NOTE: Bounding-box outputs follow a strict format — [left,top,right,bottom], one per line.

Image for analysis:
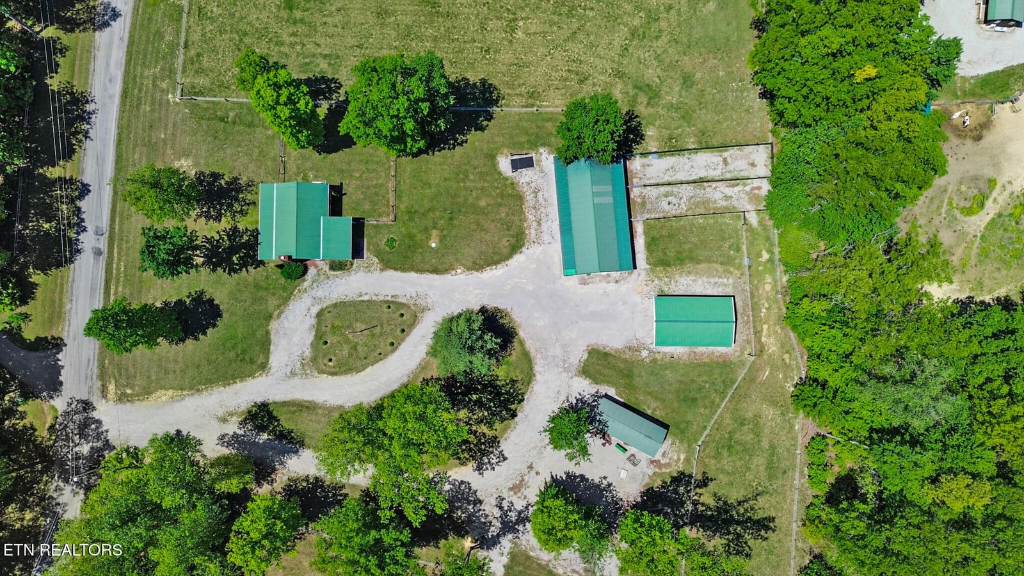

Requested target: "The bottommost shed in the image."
[588,398,668,457]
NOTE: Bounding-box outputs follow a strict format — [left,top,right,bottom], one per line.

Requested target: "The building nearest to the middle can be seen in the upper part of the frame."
[554,150,633,276]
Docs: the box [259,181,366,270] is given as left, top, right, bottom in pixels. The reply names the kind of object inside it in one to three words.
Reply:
building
